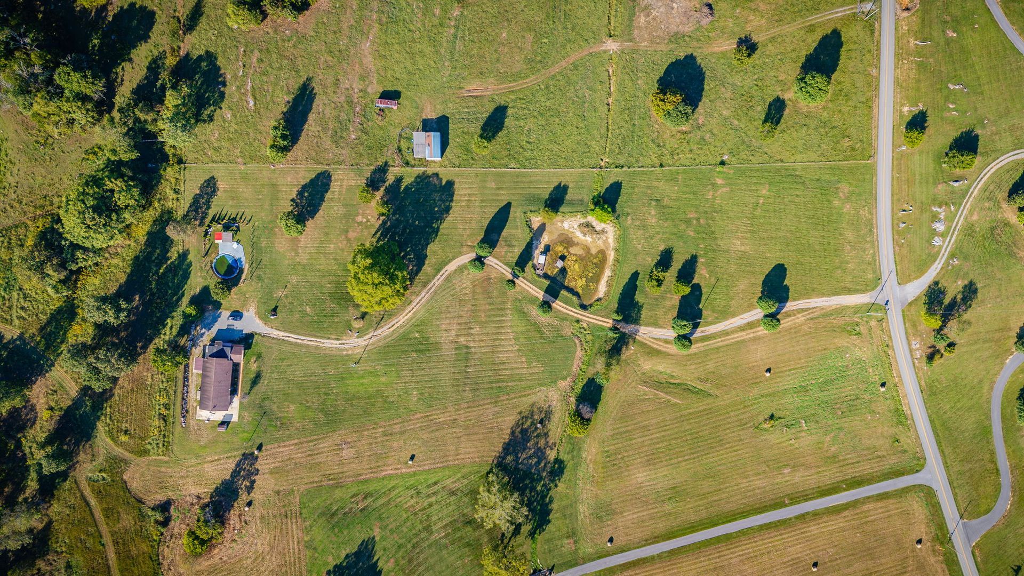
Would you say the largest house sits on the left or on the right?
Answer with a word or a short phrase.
left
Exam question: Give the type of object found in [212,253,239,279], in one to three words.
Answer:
swimming pool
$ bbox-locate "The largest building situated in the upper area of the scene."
[413,132,441,159]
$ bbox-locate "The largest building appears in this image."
[194,344,247,421]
